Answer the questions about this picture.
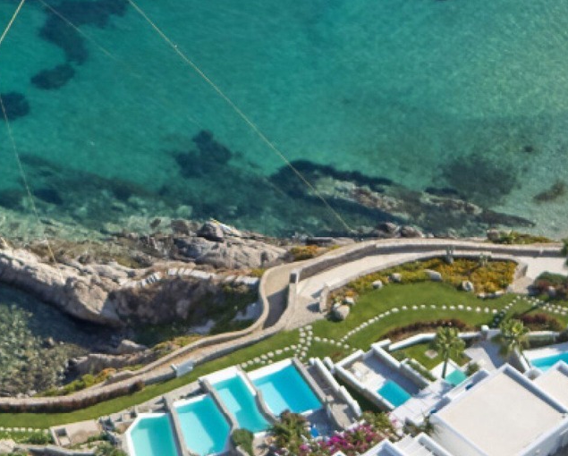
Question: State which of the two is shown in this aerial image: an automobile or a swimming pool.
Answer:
swimming pool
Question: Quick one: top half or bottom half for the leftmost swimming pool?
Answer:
bottom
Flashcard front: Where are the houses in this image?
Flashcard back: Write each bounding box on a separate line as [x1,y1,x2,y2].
[427,367,568,456]
[365,440,408,456]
